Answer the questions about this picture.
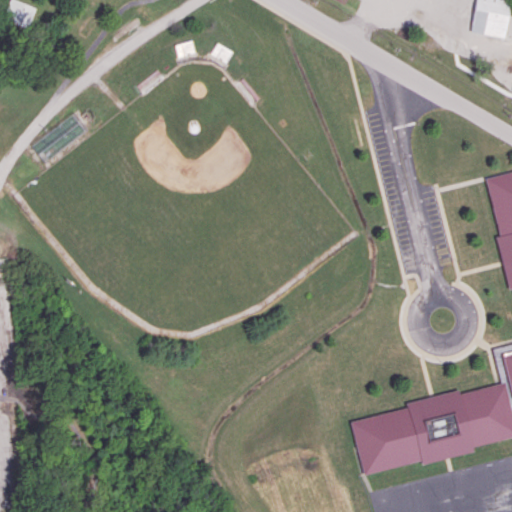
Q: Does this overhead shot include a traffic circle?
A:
Yes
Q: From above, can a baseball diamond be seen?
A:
Yes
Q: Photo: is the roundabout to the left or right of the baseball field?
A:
to the right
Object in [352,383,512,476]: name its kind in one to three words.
building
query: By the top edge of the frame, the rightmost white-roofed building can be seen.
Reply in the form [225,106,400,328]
[472,0,510,40]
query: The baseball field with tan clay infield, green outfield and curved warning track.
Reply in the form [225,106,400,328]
[8,60,358,340]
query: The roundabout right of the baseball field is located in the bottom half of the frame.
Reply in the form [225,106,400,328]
[400,279,486,363]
